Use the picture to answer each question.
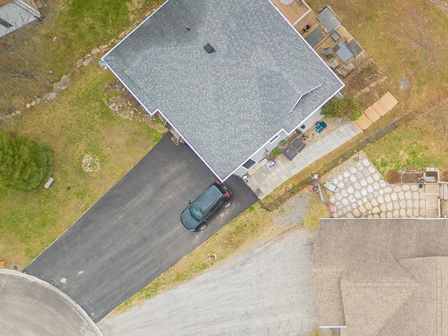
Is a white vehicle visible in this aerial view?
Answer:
No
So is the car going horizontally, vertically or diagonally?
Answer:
diagonally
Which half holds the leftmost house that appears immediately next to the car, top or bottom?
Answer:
top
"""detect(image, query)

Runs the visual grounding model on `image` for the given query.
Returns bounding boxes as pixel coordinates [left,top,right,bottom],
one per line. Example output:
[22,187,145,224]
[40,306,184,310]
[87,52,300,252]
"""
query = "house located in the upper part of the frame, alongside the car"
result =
[101,0,349,183]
